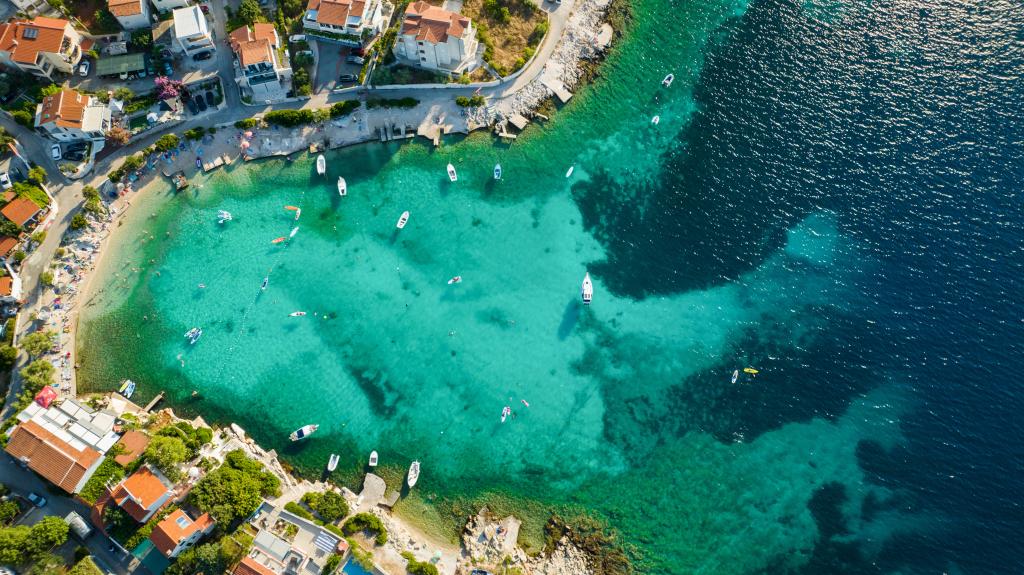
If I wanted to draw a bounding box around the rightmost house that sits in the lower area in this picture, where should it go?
[229,522,349,575]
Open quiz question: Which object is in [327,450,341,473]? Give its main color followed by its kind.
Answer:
white boat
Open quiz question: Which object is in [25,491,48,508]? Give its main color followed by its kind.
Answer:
blue car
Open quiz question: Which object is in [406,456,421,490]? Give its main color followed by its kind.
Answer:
white boat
